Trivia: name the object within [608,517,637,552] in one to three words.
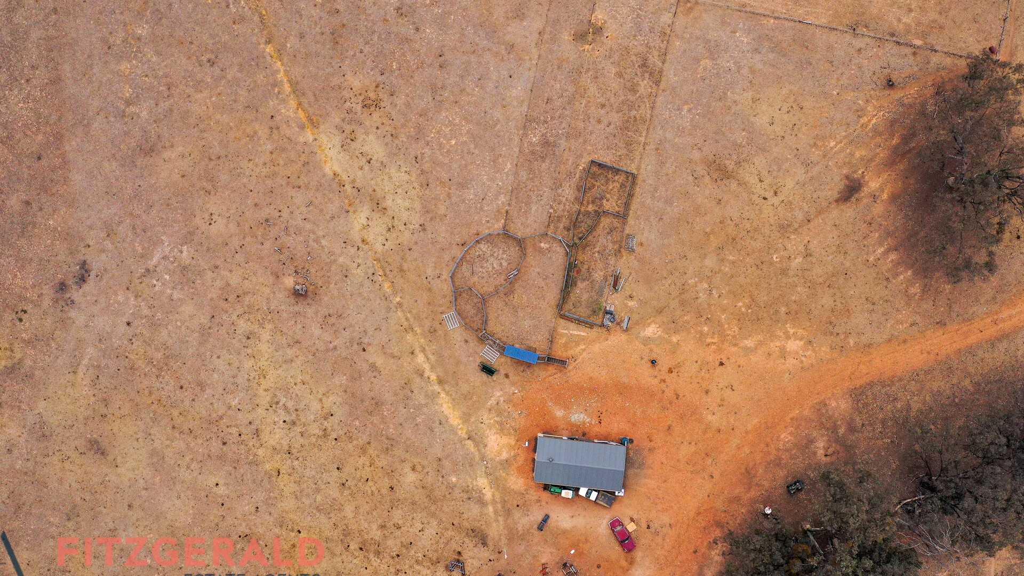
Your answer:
car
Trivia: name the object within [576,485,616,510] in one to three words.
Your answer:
truck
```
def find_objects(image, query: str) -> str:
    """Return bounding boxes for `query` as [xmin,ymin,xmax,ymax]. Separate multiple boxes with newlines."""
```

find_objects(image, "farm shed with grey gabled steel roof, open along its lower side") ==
[533,435,627,493]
